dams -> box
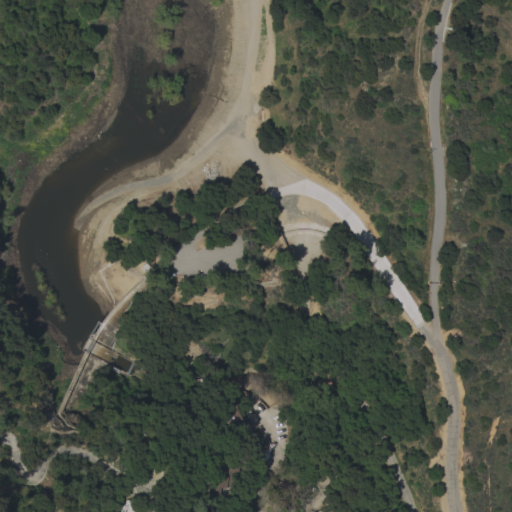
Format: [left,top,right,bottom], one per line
[58,276,148,416]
